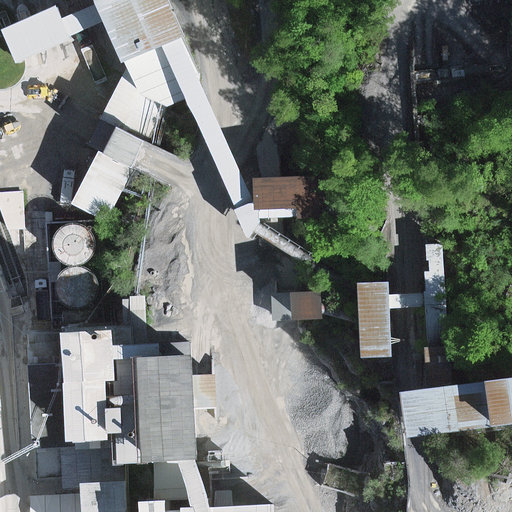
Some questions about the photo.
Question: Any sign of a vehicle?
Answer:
Yes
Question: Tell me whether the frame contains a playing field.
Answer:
No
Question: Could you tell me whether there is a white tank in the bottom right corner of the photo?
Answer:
No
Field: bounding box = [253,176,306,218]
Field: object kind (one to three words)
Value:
house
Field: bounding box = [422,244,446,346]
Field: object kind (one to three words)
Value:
building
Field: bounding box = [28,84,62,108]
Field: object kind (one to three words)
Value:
work vehicle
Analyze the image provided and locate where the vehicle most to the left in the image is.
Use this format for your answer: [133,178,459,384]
[0,116,26,141]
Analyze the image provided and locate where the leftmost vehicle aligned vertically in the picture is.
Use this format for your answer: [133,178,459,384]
[60,169,76,205]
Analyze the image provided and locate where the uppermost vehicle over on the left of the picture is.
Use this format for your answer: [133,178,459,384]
[76,32,106,84]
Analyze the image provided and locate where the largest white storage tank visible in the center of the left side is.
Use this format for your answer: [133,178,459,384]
[52,222,96,266]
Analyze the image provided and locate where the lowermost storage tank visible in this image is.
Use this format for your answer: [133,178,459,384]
[54,266,100,310]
